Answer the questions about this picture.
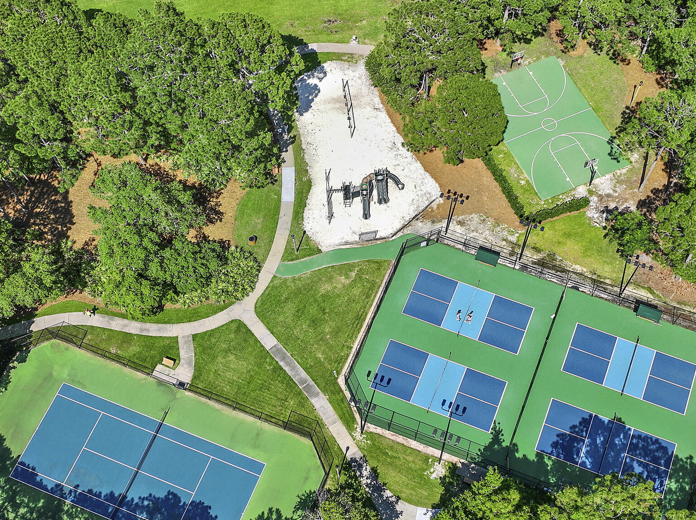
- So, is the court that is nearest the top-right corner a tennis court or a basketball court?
basketball court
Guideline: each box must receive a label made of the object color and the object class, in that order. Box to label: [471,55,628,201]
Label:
green basketball court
